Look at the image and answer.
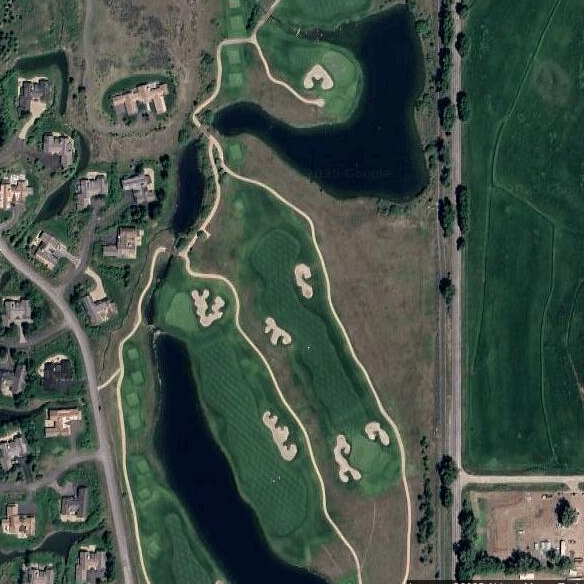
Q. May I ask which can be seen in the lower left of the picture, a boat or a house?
house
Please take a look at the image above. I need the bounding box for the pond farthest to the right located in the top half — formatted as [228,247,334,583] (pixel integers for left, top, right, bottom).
[172,136,205,232]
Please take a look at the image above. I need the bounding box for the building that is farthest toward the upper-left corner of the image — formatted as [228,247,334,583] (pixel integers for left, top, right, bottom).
[16,75,52,110]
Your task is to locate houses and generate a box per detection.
[2,502,37,539]
[0,428,29,474]
[43,406,82,438]
[60,486,89,522]
[2,294,34,328]
[35,352,74,390]
[16,75,52,110]
[121,165,156,204]
[75,544,106,584]
[44,131,76,169]
[31,229,69,271]
[0,170,33,209]
[78,295,118,328]
[103,227,145,260]
[76,171,108,209]
[111,81,170,115]
[0,363,29,397]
